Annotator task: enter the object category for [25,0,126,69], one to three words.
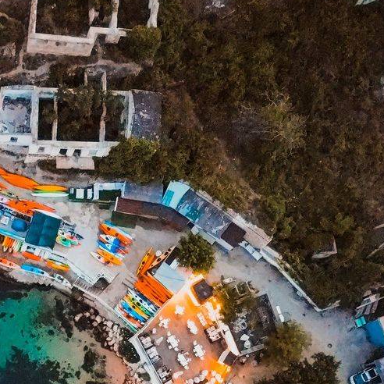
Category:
house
